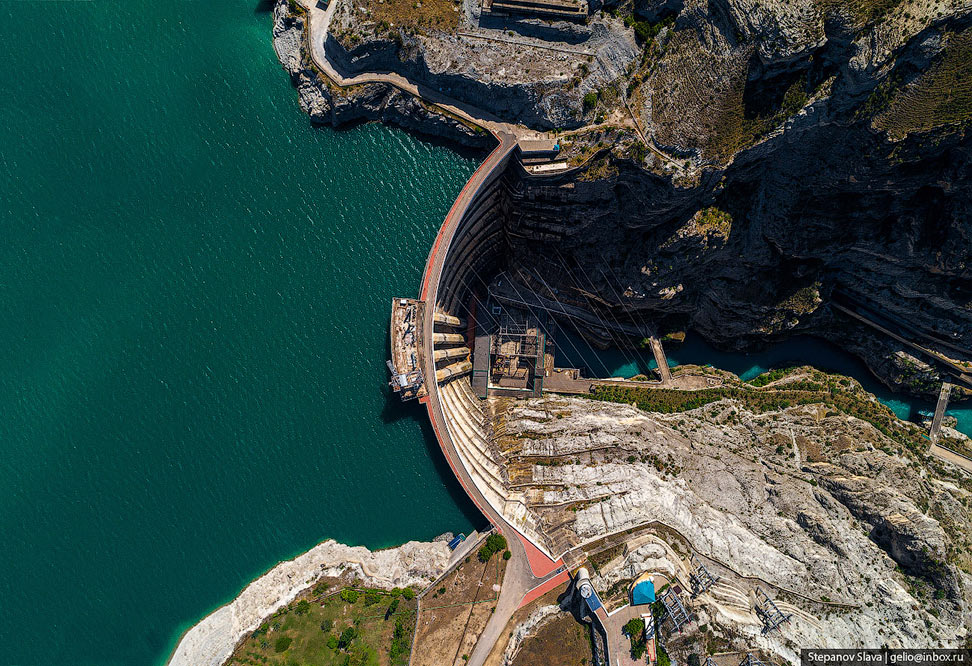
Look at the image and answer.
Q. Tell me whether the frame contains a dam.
Yes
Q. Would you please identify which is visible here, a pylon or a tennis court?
pylon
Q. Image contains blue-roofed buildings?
Yes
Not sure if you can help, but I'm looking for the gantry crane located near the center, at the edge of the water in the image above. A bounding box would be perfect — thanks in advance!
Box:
[386,360,425,396]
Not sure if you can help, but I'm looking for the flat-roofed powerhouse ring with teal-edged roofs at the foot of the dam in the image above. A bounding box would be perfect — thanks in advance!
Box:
[468,293,546,398]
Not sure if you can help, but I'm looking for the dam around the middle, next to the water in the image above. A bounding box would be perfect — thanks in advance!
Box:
[421,129,590,562]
